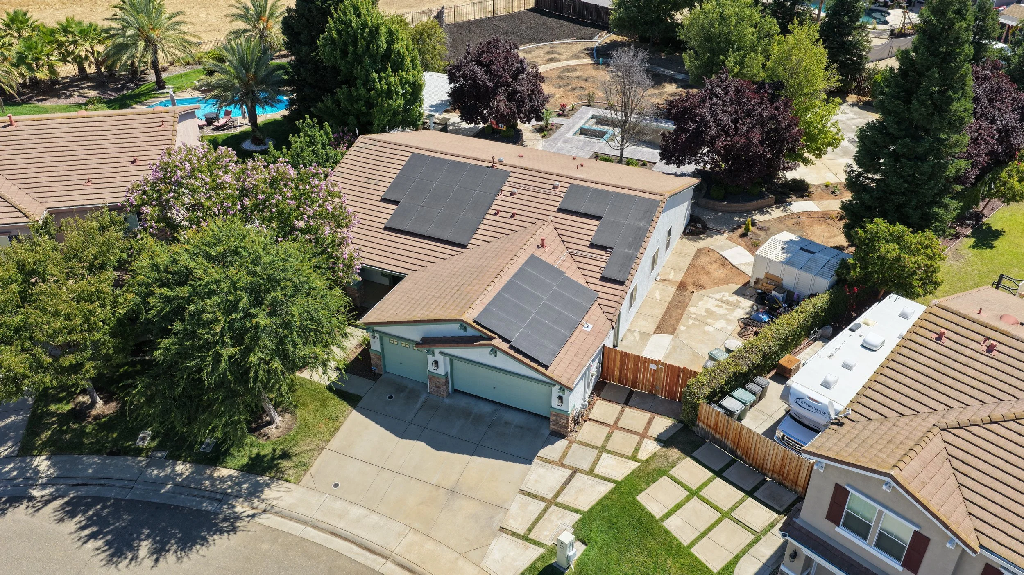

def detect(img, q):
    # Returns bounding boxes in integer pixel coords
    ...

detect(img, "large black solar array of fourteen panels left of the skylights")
[381,152,508,247]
